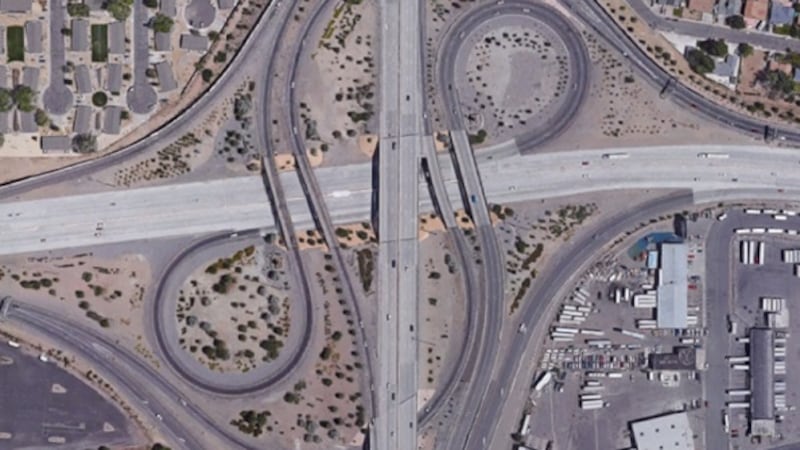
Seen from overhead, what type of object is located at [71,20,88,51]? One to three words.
house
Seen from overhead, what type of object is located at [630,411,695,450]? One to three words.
building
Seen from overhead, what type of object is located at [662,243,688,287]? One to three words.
building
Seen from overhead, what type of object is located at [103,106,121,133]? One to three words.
house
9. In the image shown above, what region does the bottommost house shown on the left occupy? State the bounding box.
[41,137,70,150]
